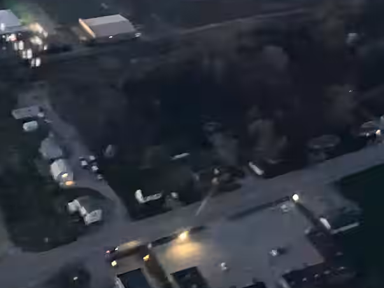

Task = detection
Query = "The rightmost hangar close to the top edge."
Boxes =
[73,13,138,43]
